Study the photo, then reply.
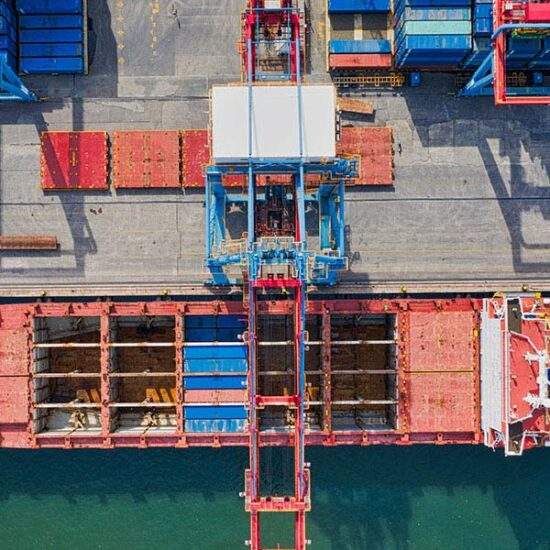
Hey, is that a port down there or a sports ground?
port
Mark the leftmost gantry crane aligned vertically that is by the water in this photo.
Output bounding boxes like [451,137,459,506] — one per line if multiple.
[199,0,363,550]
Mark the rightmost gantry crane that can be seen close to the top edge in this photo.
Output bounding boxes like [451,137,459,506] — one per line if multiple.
[457,0,550,103]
